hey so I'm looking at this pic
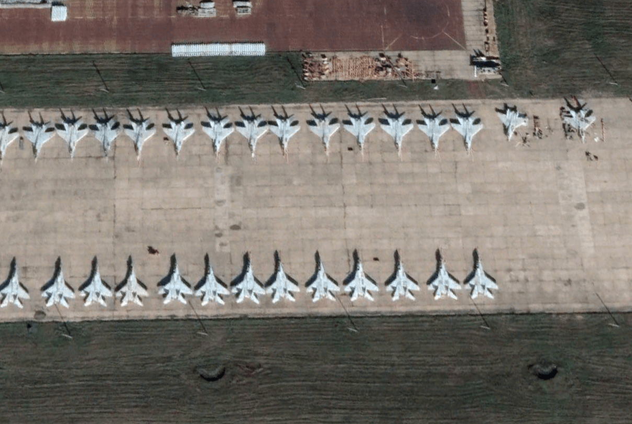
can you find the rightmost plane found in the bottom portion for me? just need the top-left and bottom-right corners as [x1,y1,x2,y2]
[465,252,498,303]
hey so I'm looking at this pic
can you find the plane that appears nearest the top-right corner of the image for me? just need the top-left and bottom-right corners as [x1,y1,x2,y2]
[566,108,596,146]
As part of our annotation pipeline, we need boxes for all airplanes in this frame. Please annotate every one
[80,259,113,309]
[0,122,19,169]
[418,112,451,161]
[202,115,234,163]
[428,252,461,303]
[267,255,300,305]
[451,112,484,163]
[566,108,596,146]
[196,256,229,309]
[91,119,123,167]
[345,255,378,304]
[56,118,89,168]
[380,113,414,161]
[386,252,420,305]
[159,257,192,306]
[163,117,195,167]
[307,254,340,305]
[24,120,55,168]
[308,112,340,161]
[116,259,149,308]
[465,252,498,303]
[497,106,528,143]
[231,256,266,306]
[0,261,30,311]
[343,113,376,162]
[124,117,156,168]
[269,115,301,165]
[42,260,75,309]
[235,115,268,164]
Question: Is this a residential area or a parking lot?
parking lot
